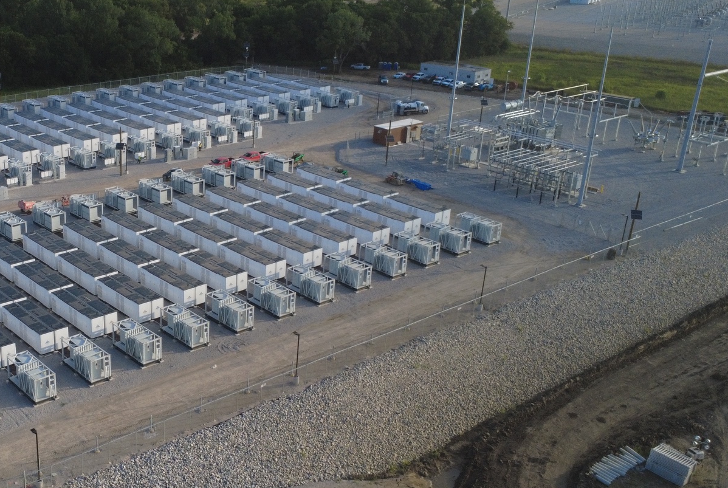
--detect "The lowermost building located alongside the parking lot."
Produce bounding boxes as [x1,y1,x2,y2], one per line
[373,116,428,148]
